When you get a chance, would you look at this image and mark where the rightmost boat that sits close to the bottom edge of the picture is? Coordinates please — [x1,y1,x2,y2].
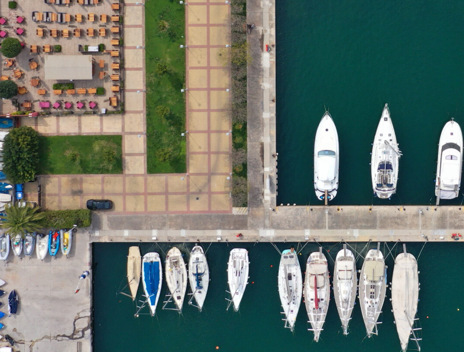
[386,243,427,352]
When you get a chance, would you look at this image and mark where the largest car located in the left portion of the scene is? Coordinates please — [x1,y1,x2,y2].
[87,199,112,212]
